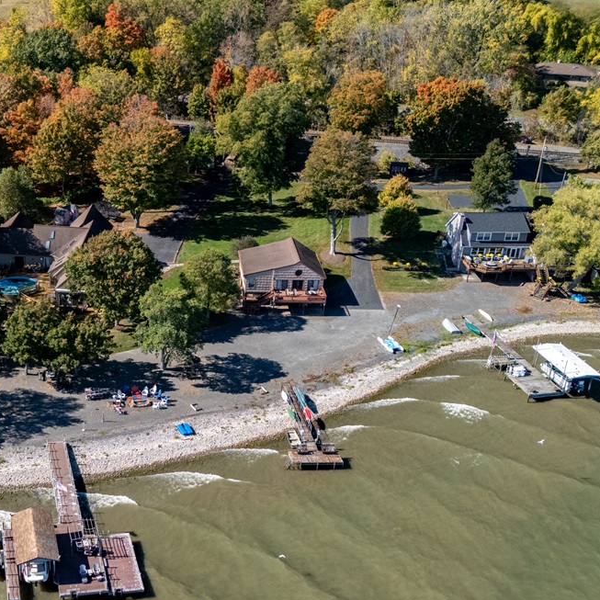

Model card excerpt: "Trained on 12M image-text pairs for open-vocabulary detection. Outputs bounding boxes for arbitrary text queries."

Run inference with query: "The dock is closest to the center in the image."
[287,390,344,472]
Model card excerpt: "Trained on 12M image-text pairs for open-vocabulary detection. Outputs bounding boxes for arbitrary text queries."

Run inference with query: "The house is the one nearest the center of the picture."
[228,229,331,316]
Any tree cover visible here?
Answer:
Yes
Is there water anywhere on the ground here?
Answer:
Yes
